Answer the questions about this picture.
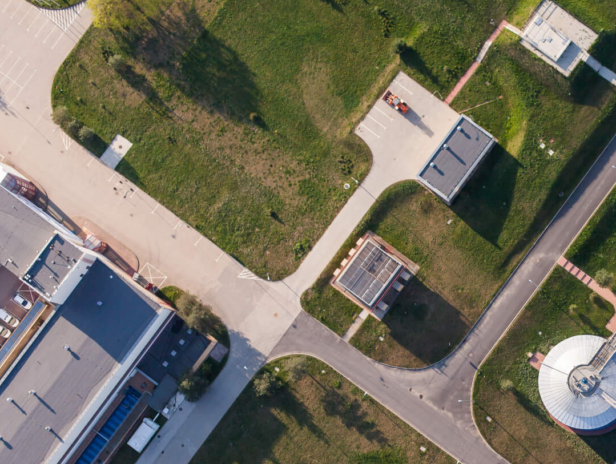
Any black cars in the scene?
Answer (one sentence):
No, there appears to be no black car in this shot.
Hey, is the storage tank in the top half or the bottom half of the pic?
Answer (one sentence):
Seen from above, the storage tank lies in the bottom half of the view.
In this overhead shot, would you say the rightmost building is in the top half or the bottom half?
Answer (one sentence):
Seen from above, the rightmost building lies in the top half of the view.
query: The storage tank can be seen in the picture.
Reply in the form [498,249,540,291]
[538,335,616,436]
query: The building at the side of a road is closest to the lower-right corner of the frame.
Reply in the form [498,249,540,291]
[330,231,420,320]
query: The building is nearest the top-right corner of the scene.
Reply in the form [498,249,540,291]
[416,114,497,202]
